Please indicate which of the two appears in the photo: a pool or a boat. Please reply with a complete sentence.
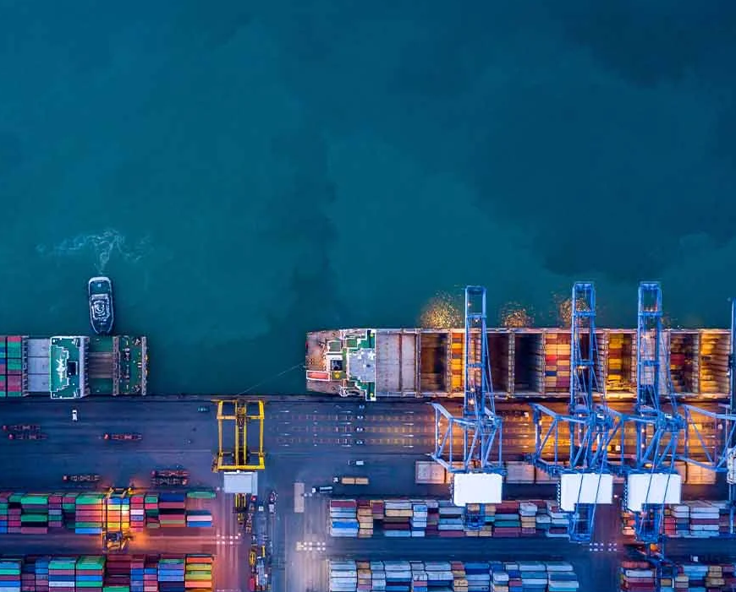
I can see a boat in this picture.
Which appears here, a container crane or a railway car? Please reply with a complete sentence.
This aerial view contains a container crane.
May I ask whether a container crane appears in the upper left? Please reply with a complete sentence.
No, the scene shows no container crane in the upper left.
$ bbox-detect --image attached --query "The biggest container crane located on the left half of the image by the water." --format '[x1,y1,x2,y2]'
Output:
[213,401,267,520]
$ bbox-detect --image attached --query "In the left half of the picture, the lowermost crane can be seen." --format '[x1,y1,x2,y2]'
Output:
[102,484,135,553]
